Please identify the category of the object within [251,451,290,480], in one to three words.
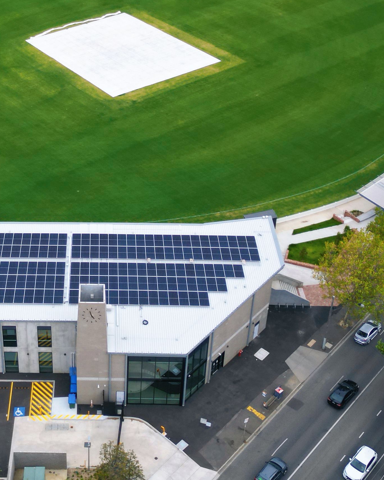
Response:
car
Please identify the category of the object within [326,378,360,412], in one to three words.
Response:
car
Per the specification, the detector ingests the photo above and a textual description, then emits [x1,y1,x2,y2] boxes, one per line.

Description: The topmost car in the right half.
[351,318,382,347]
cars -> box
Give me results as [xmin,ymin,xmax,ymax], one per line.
[351,318,382,347]
[341,441,380,480]
[251,451,290,480]
[326,378,360,412]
